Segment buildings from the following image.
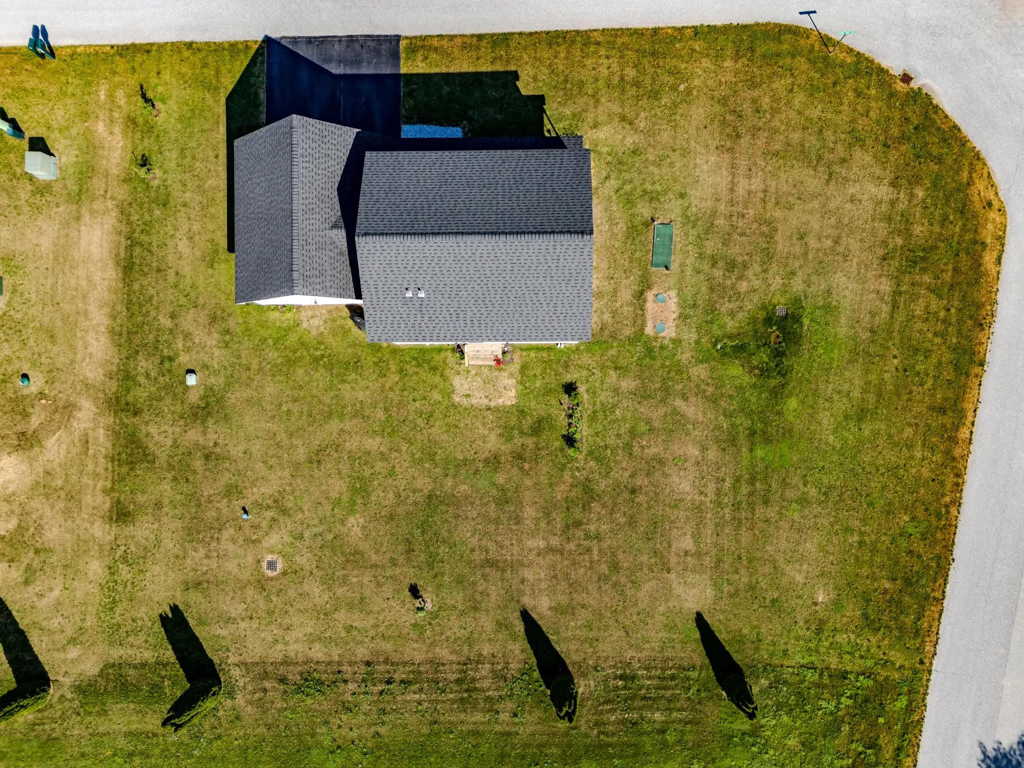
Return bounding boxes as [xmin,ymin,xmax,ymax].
[233,114,596,350]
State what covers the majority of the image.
grass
